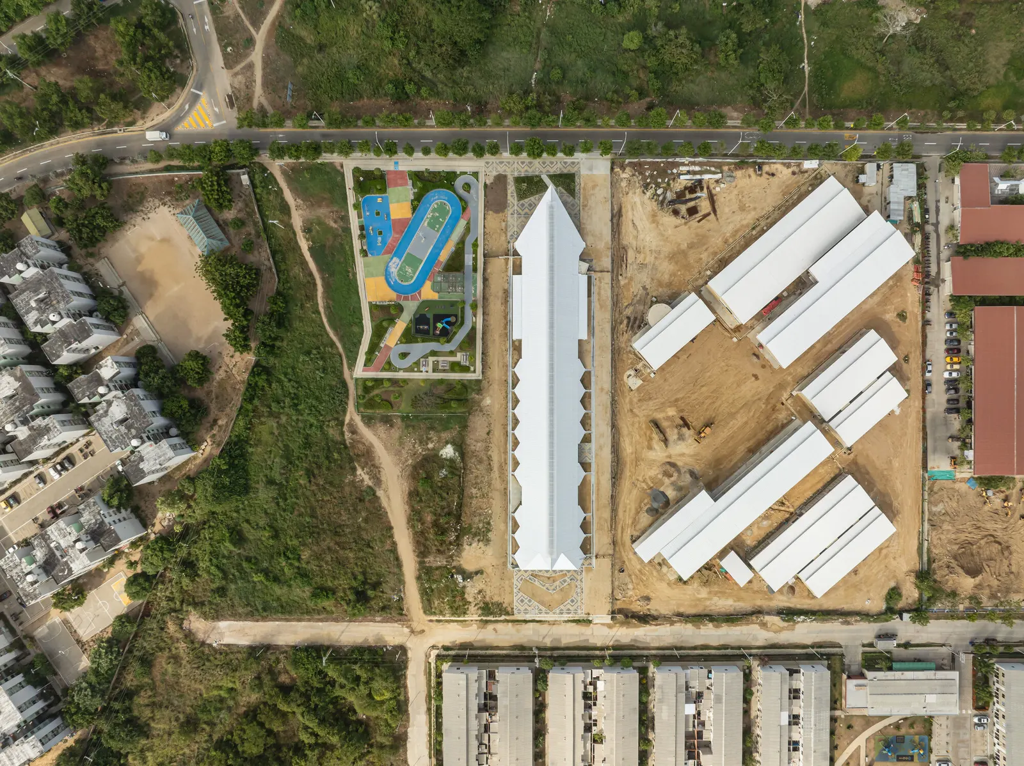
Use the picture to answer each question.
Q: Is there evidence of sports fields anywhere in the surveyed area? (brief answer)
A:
Yes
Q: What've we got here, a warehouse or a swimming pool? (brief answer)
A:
warehouse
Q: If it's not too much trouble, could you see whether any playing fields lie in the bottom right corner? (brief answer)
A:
No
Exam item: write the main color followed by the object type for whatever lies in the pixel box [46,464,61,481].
white car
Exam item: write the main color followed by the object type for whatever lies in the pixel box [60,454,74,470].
gray car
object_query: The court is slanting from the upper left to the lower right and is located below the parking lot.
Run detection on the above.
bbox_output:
[34,618,89,685]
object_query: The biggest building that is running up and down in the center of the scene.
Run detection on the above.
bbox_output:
[513,186,588,570]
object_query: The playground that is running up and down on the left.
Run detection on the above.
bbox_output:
[362,195,392,256]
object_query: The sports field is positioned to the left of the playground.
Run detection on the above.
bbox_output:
[120,208,231,365]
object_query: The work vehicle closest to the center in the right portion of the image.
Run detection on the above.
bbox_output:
[694,422,717,445]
